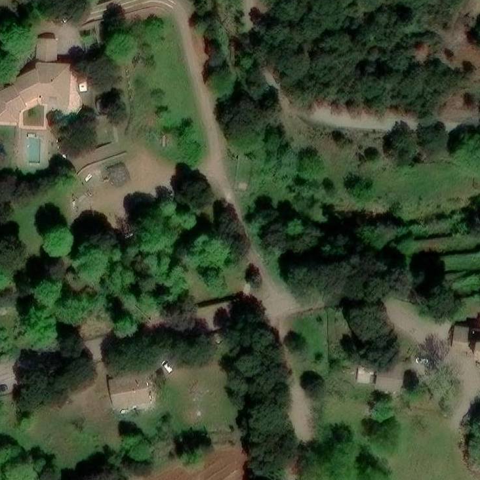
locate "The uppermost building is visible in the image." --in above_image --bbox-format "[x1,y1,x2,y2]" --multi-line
[35,38,57,61]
